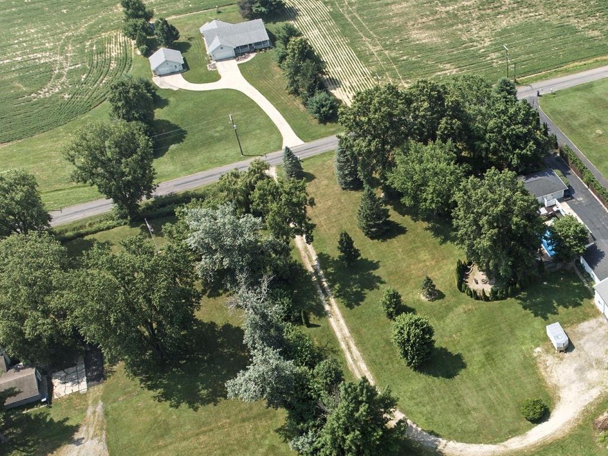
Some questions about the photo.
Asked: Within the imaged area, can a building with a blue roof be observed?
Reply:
No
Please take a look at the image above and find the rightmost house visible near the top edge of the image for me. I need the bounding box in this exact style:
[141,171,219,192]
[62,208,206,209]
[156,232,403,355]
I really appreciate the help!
[198,7,272,60]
